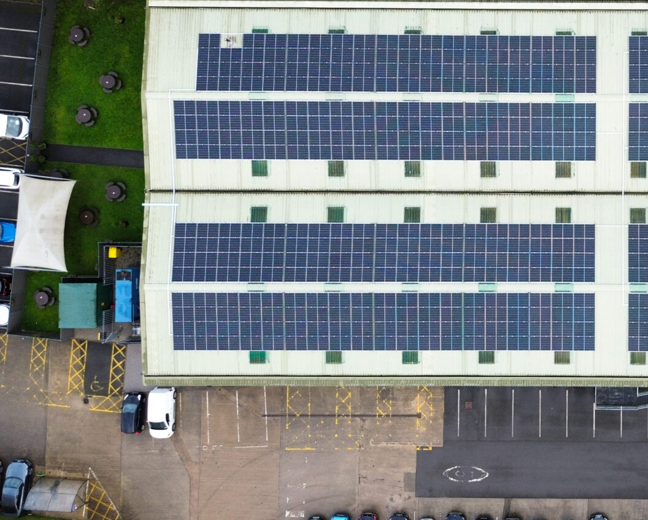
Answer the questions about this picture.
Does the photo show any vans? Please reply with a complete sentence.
Yes, the picture does show a van.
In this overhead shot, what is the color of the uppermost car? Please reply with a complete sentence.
From above, the uppermost car appears white.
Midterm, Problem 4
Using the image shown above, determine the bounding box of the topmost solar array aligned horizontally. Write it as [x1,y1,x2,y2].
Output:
[196,33,596,94]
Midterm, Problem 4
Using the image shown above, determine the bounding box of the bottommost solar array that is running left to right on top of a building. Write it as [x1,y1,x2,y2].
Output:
[171,291,595,352]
